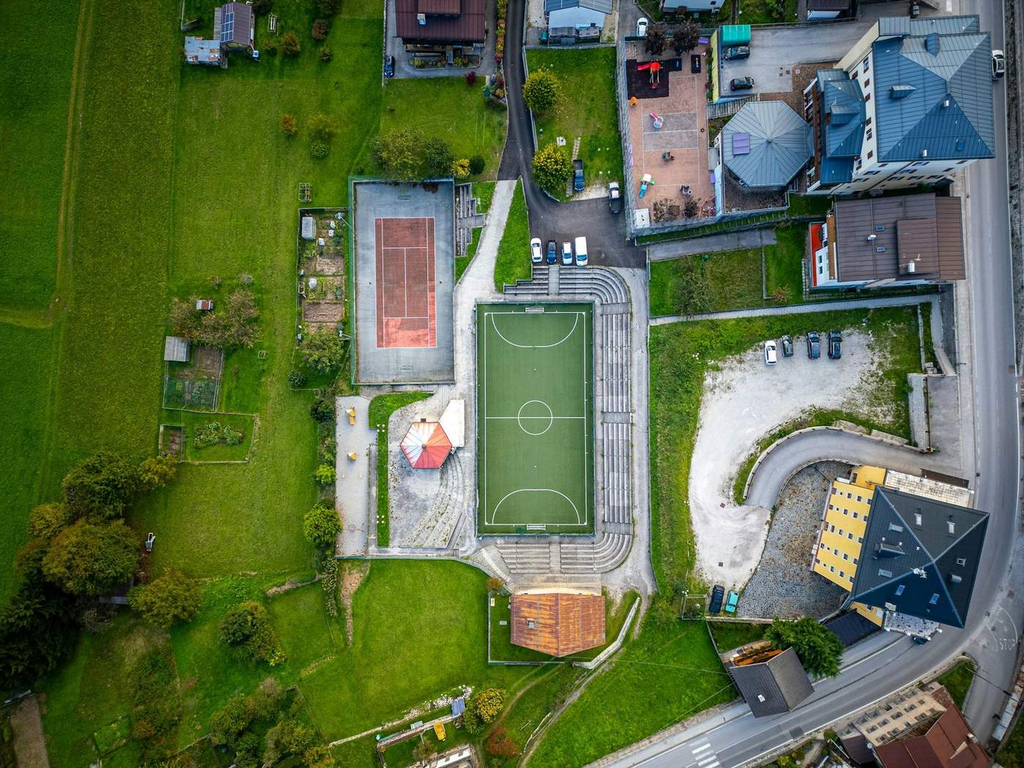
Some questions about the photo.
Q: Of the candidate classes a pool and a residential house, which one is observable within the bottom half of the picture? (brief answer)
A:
residential house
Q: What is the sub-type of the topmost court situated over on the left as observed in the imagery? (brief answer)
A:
tennis court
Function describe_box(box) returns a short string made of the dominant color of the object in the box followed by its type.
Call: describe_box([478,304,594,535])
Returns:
green sports field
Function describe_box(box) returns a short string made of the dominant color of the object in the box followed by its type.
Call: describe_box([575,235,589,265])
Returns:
white vehicle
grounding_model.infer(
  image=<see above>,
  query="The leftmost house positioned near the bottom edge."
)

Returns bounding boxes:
[415,737,480,768]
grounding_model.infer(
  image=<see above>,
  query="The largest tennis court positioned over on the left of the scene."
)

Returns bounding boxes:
[353,181,455,384]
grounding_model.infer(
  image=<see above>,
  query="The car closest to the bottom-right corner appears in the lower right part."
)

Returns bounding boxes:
[908,634,934,650]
